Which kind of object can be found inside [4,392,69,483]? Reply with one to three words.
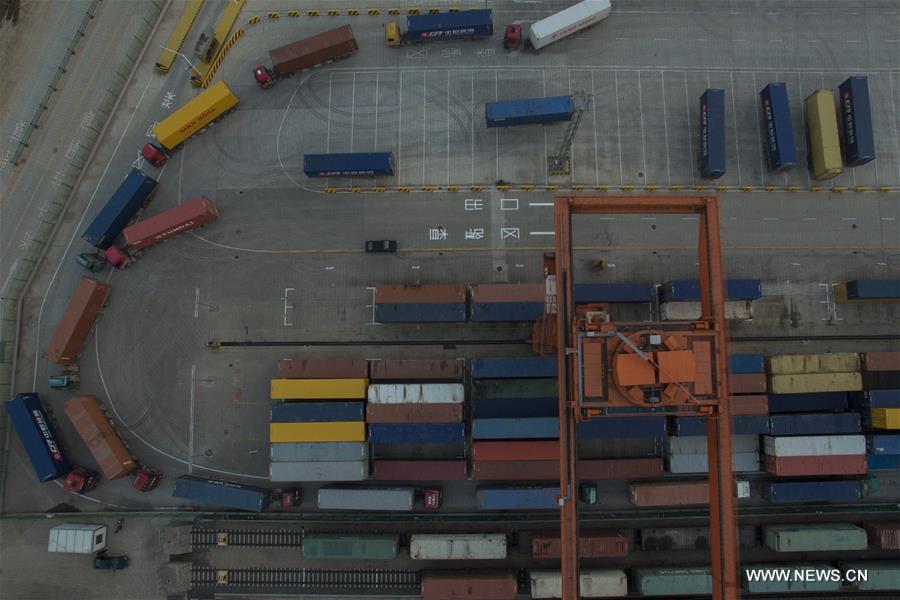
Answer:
shipping container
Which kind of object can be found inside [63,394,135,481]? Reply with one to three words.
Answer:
shipping container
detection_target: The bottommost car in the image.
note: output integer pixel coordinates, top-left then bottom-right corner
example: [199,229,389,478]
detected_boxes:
[92,553,129,571]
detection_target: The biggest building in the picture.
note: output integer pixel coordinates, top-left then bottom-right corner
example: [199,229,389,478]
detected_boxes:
[46,523,105,555]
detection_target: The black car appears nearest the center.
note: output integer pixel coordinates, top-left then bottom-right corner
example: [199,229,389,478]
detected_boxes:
[365,238,397,253]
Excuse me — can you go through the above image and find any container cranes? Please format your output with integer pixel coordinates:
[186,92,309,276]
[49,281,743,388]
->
[526,198,746,600]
